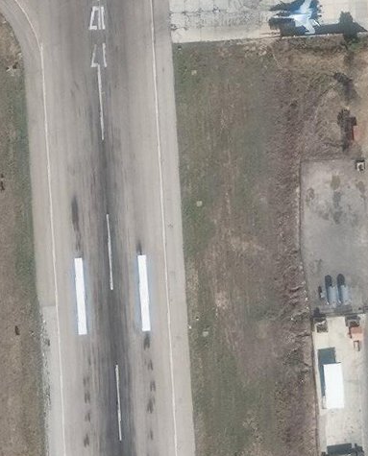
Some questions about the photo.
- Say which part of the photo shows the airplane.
top right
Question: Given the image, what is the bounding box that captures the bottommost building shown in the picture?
[324,363,343,413]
